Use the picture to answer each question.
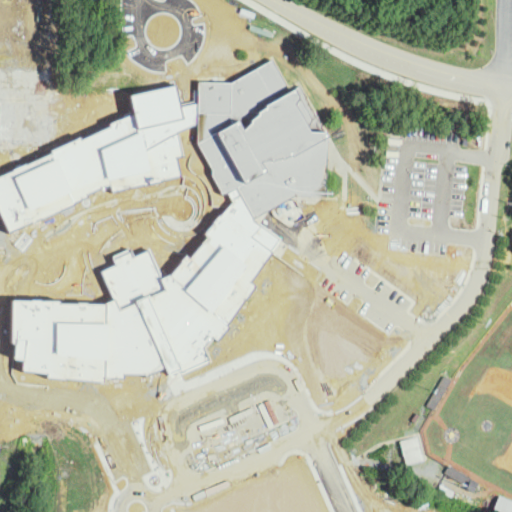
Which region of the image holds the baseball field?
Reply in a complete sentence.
You can find the baseball field in the bottom right area of the picture.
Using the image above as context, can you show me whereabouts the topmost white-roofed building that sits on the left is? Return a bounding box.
[0,58,328,384]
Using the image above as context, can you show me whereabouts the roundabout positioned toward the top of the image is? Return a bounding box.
[124,0,206,74]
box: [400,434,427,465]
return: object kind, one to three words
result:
building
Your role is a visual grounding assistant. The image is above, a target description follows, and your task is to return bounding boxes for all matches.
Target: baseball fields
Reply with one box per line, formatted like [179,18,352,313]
[422,300,512,502]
